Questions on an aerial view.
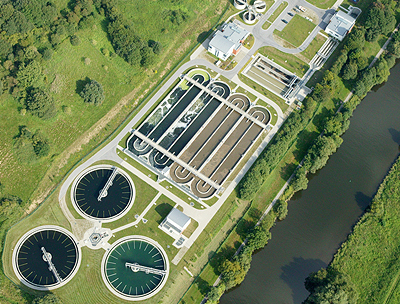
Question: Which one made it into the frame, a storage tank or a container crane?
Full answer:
It is a storage tank that can be seen here.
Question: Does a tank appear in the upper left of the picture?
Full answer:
No, in the upper left of the picture there is no tank.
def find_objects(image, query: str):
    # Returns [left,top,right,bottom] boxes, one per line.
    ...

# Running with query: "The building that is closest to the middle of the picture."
[166,207,192,231]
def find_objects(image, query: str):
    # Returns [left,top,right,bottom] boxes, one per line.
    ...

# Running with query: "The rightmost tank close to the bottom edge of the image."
[101,235,171,302]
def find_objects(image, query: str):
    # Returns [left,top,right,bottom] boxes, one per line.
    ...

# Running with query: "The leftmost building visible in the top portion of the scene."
[207,22,250,62]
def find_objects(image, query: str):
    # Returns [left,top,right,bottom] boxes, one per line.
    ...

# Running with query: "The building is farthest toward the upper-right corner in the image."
[323,10,357,44]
